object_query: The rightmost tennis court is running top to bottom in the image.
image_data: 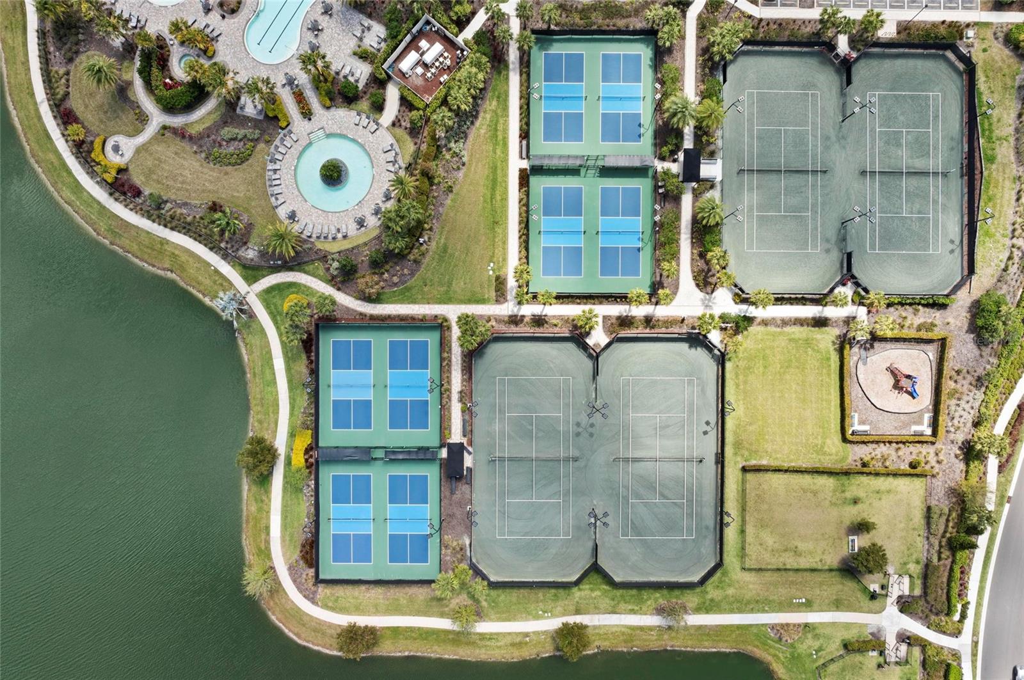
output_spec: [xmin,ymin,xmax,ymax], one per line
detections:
[846,52,963,294]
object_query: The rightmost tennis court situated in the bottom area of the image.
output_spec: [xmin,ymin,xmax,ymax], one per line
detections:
[597,334,721,581]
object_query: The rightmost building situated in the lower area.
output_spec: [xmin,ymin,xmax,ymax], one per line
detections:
[447,442,464,478]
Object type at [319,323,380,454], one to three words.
sports court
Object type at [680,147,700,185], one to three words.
building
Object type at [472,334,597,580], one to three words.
tennis court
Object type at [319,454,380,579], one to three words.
sports court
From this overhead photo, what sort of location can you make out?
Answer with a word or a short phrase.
sports ground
